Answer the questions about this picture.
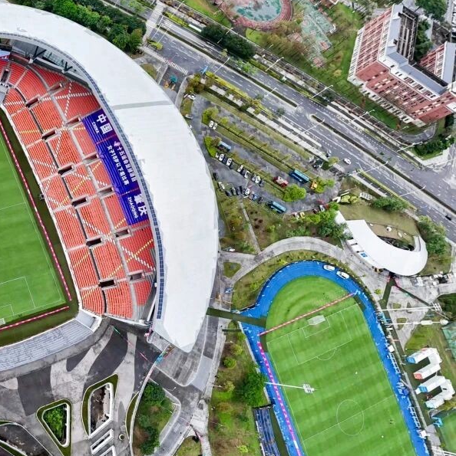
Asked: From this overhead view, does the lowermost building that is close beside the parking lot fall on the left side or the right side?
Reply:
right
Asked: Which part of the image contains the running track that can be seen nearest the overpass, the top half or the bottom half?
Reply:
top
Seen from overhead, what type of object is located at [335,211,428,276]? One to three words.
building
